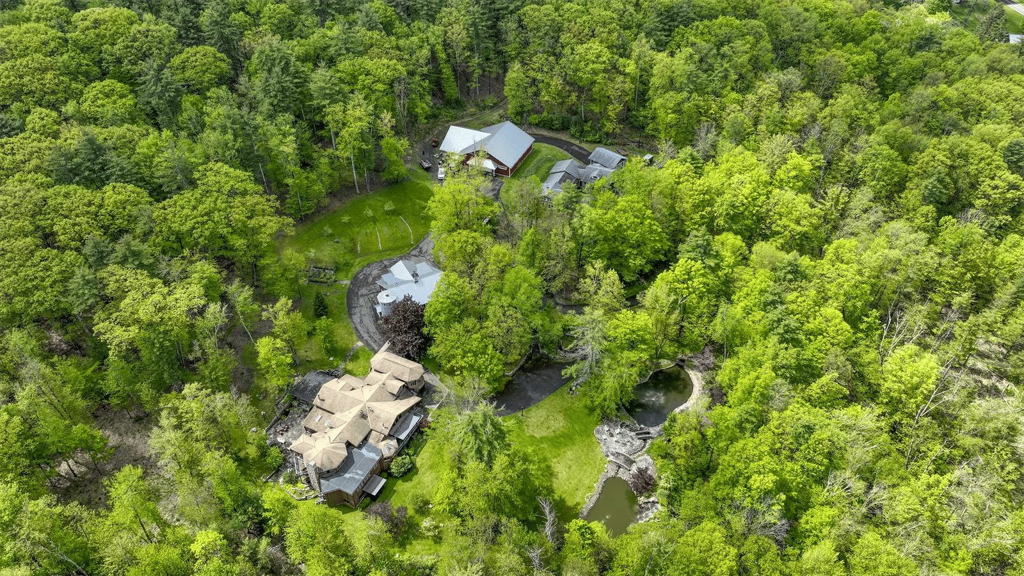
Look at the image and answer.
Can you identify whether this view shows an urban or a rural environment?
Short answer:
rural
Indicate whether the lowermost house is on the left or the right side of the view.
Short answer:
left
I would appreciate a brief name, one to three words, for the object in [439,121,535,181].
barn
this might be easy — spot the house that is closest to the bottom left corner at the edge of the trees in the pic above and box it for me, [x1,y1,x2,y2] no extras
[289,341,424,507]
